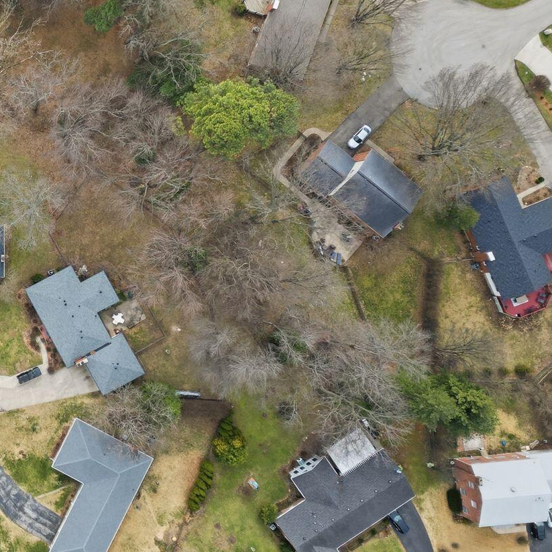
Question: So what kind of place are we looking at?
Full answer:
The picture captures a residential area.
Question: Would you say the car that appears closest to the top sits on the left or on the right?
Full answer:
The car that appears closest to the top is on the right side of the image.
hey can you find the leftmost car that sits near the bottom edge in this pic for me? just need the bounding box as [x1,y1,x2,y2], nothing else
[388,510,412,537]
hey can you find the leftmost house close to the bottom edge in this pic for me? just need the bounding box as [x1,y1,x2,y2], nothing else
[50,418,155,552]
